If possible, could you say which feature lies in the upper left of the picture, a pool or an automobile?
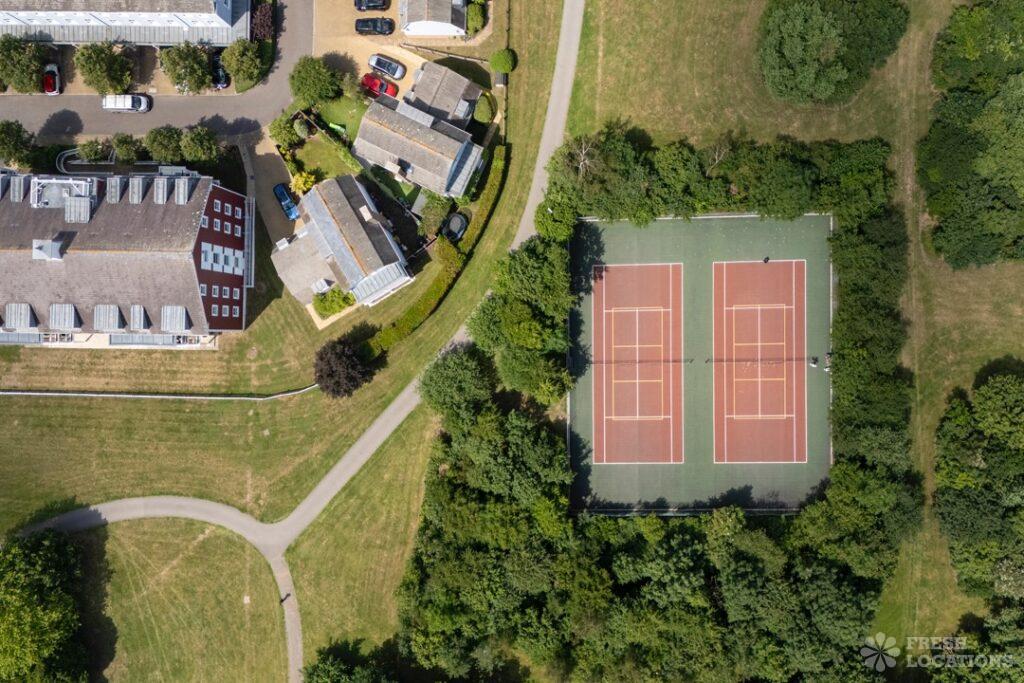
automobile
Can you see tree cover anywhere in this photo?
Yes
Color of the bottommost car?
blue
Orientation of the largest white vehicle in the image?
from left to right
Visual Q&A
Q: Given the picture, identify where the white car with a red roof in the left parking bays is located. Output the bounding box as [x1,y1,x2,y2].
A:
[42,65,62,98]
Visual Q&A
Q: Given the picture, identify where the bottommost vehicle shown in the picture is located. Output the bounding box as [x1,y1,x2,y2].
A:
[274,183,301,221]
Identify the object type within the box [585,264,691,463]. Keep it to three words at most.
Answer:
tennis court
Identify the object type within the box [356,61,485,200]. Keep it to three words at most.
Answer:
house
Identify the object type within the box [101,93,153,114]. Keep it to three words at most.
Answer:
vehicle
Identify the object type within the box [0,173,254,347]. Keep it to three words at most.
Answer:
building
